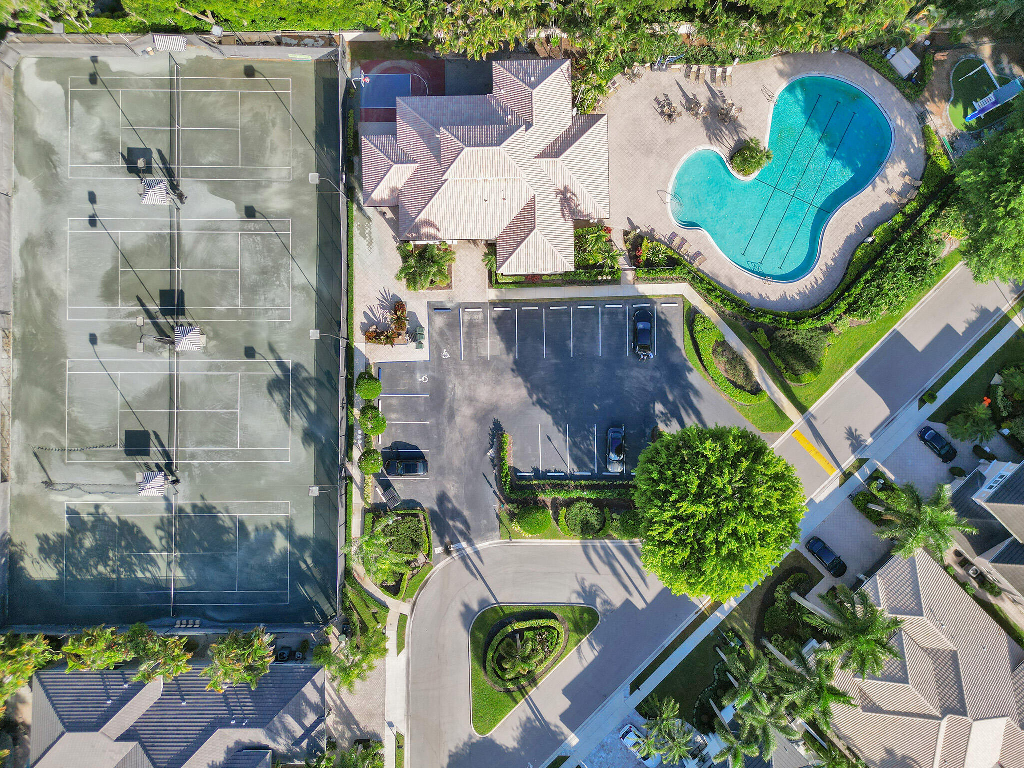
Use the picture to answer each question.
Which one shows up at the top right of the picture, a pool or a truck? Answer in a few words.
pool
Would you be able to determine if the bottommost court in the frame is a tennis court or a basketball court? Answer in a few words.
tennis court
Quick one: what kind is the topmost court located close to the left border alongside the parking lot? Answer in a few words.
tennis court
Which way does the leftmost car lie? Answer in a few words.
from left to right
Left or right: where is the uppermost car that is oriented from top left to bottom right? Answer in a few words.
right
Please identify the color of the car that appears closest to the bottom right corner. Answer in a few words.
black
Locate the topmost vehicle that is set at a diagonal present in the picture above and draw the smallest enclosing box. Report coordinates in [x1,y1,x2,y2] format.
[913,424,956,462]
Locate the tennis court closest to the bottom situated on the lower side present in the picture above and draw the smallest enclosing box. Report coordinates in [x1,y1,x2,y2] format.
[9,482,341,628]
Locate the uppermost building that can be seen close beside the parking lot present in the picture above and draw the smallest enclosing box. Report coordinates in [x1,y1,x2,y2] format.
[360,58,610,273]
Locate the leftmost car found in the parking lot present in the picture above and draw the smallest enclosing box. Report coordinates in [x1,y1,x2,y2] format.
[384,458,428,480]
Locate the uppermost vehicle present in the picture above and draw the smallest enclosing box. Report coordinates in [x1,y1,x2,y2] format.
[632,308,655,355]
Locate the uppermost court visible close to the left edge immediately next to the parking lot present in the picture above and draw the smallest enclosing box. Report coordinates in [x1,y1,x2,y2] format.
[11,47,341,199]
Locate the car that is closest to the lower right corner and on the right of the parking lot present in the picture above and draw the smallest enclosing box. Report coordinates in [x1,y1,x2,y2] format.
[803,535,846,575]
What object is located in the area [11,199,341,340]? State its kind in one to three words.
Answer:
tennis court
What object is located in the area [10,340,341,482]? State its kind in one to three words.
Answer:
tennis court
